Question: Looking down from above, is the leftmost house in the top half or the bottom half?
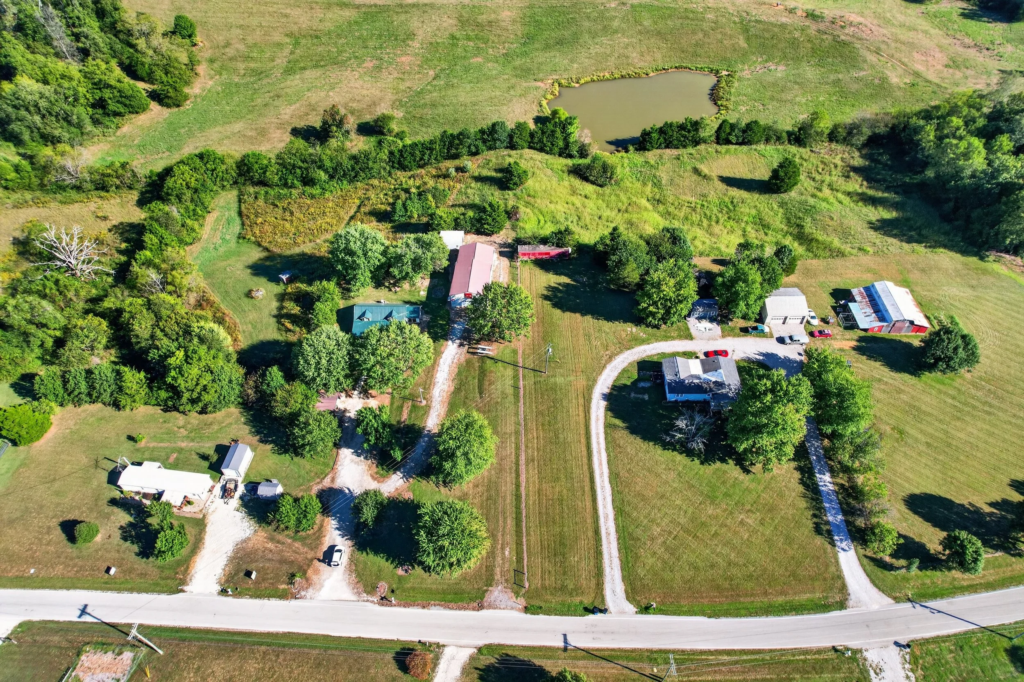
bottom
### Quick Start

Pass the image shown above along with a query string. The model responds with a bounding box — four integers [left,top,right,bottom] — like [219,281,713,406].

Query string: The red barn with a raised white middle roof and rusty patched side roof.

[845,278,931,334]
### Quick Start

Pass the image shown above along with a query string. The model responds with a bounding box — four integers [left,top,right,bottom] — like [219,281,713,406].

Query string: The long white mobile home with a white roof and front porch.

[117,461,219,512]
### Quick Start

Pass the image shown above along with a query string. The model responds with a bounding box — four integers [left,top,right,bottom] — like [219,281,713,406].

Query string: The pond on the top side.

[550,71,719,152]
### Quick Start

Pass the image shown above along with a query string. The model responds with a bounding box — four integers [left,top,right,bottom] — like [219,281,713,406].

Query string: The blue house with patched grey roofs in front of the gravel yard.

[661,354,739,413]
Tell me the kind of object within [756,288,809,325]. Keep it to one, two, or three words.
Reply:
building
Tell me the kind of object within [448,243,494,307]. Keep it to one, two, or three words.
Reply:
building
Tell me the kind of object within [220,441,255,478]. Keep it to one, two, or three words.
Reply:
shed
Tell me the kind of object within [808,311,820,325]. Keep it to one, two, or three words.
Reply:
vehicle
